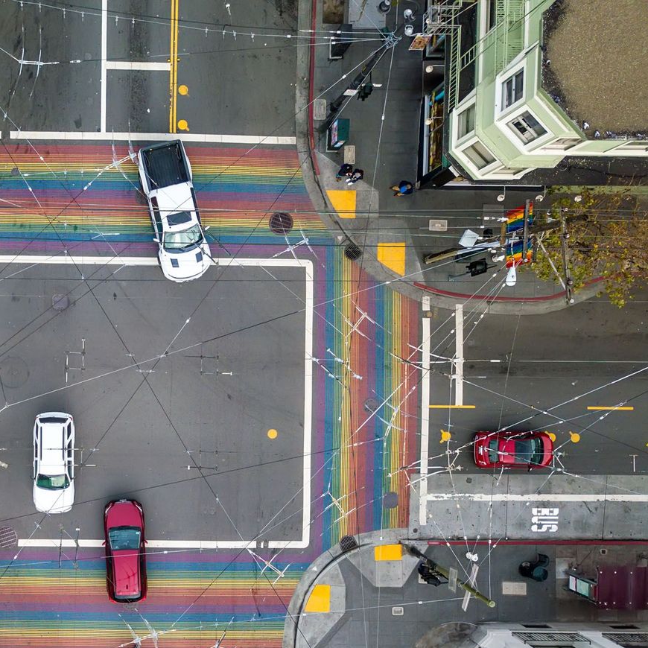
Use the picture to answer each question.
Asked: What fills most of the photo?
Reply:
paved ground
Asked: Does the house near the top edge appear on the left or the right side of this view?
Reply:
right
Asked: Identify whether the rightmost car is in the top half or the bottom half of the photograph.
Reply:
bottom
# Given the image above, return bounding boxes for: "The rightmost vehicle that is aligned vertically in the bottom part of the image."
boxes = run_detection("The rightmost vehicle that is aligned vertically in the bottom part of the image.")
[100,499,150,601]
